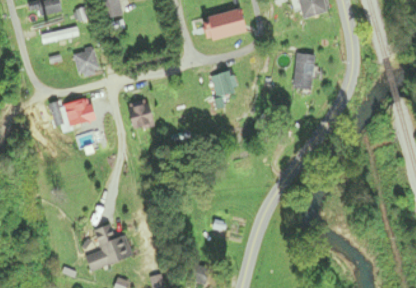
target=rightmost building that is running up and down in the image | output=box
[295,53,314,94]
